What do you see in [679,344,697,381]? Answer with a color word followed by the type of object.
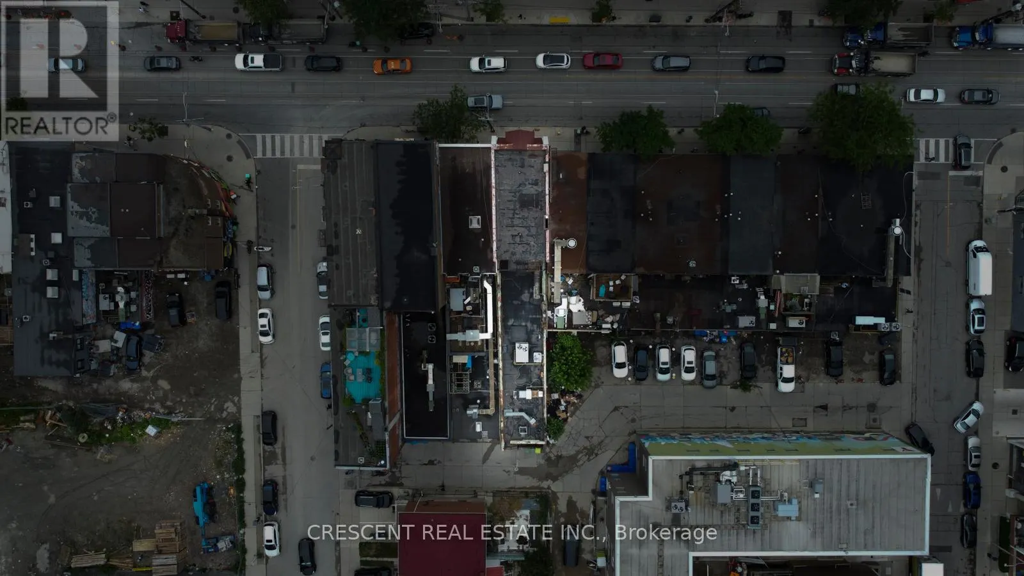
white car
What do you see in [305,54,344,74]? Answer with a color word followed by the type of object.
black car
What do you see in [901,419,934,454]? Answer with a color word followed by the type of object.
black car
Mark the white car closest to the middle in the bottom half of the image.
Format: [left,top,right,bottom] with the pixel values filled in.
[611,341,628,378]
